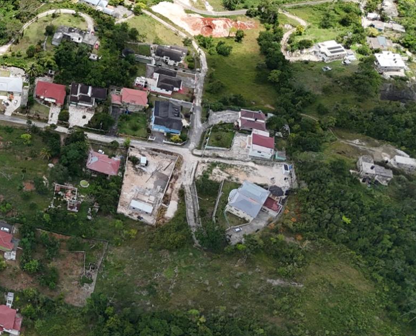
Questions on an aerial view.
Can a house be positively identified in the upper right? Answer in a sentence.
Yes, the scene does show a house in the upper right.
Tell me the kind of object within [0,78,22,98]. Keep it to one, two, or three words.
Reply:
house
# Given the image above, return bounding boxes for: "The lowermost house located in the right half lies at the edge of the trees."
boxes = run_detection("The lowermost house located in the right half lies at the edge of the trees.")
[226,181,283,226]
